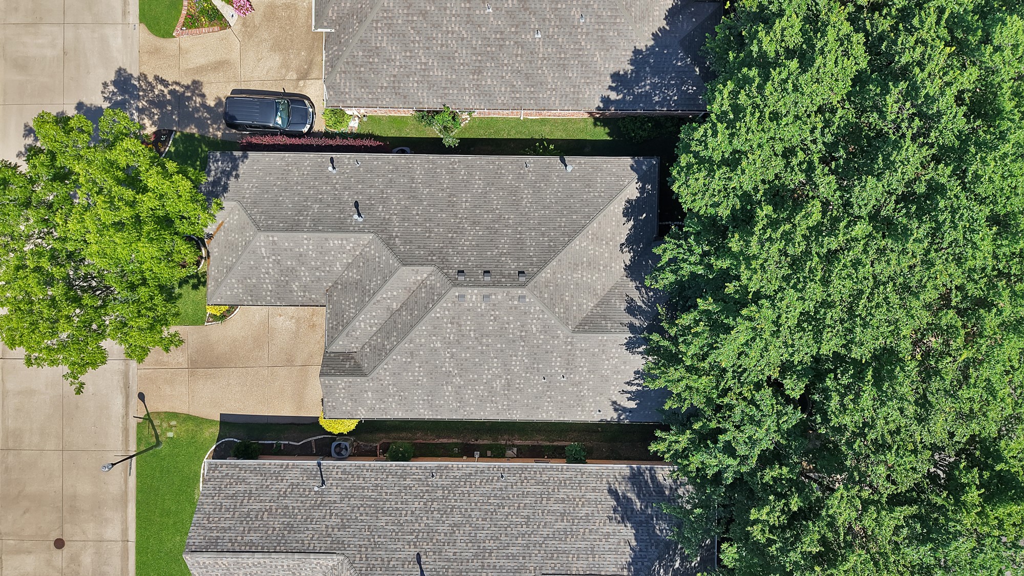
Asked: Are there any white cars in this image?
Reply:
No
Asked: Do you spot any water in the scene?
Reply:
No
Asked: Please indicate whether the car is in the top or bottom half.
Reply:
top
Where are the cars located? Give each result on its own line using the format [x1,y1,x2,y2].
[225,92,320,136]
